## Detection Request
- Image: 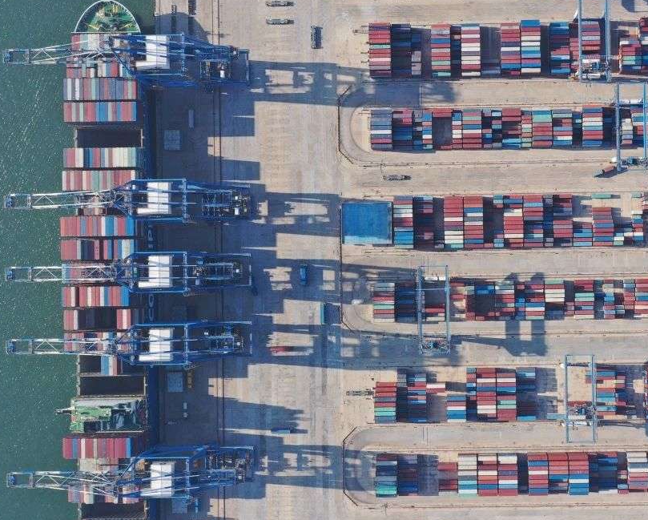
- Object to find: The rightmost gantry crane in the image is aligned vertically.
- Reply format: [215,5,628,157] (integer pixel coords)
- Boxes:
[607,82,648,170]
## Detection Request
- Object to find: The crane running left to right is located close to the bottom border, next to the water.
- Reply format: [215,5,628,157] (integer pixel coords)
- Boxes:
[6,433,255,501]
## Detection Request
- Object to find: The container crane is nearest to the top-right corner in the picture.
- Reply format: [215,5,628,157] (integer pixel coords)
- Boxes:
[570,0,611,83]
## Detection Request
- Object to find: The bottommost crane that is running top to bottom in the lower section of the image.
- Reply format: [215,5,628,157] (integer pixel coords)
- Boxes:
[558,355,598,443]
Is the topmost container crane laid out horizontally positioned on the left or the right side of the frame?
left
